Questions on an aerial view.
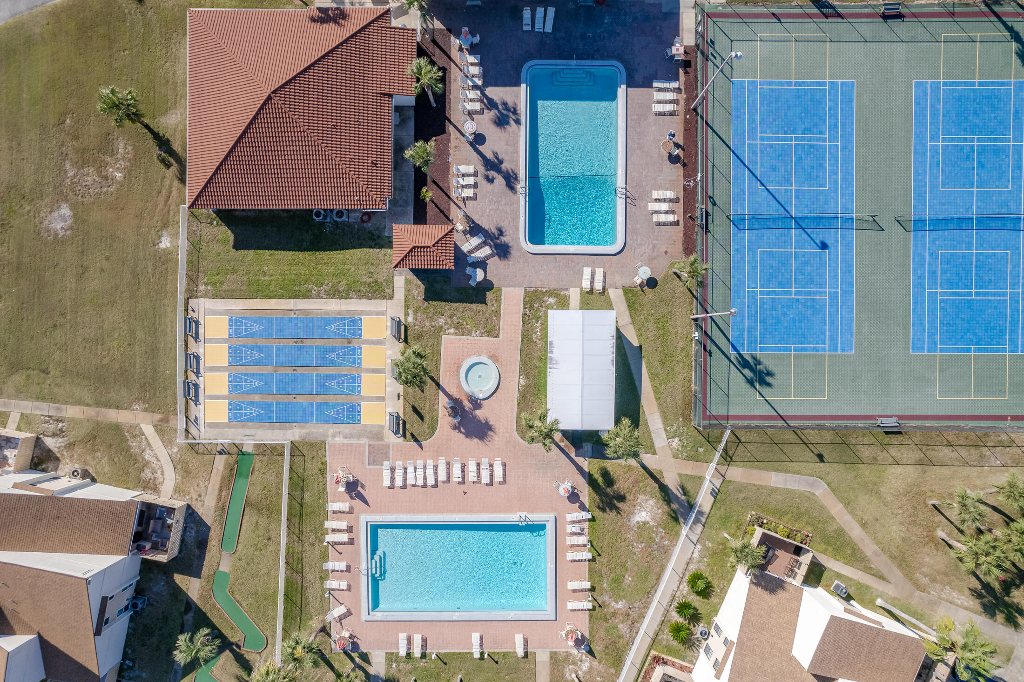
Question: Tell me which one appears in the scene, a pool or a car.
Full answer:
It is a pool that can be seen here.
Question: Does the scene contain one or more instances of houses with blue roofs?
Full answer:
No, there isn't any house with a blue roof down there.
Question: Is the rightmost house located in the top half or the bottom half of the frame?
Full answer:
It is in the bottom half that the rightmost house appears.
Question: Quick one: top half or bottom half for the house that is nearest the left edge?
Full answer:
Seen from above, the house that is nearest the left edge lies in the bottom half of the view.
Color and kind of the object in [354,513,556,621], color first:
blue swimming pool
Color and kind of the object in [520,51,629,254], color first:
blue swimming pool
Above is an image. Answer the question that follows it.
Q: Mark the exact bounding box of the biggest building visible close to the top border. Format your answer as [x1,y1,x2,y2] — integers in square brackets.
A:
[186,5,417,210]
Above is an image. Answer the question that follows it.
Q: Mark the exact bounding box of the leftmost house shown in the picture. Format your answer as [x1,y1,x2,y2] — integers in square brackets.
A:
[0,467,145,682]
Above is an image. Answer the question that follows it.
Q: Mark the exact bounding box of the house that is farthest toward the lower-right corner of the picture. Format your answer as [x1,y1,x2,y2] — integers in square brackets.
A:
[689,570,930,682]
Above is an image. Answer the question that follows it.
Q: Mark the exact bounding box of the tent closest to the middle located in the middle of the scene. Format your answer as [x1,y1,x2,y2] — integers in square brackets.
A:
[547,310,616,430]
